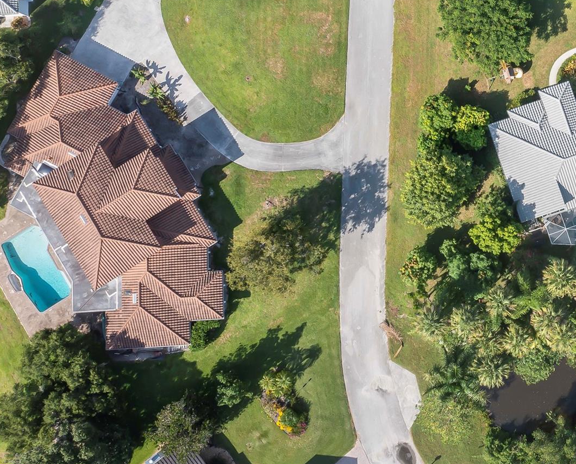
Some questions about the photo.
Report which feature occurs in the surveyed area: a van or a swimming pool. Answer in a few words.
swimming pool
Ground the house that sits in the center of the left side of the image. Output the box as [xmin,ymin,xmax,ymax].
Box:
[2,49,229,351]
